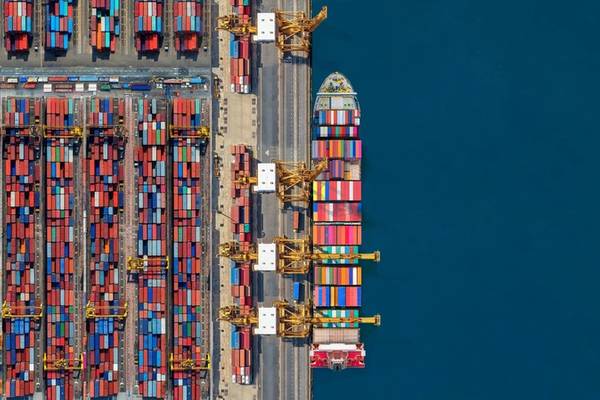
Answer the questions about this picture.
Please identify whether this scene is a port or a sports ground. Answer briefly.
port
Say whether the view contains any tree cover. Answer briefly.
No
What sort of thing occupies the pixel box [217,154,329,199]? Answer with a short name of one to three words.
container crane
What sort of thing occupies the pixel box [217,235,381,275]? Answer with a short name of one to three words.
container crane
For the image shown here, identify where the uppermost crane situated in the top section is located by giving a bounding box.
[217,2,328,57]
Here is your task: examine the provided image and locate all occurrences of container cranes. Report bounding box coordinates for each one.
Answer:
[217,2,328,57]
[44,126,89,140]
[2,126,47,139]
[217,154,329,199]
[217,235,381,275]
[87,126,131,139]
[171,126,213,140]
[87,302,131,317]
[171,353,213,370]
[217,295,381,338]
[128,256,173,269]
[44,353,89,370]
